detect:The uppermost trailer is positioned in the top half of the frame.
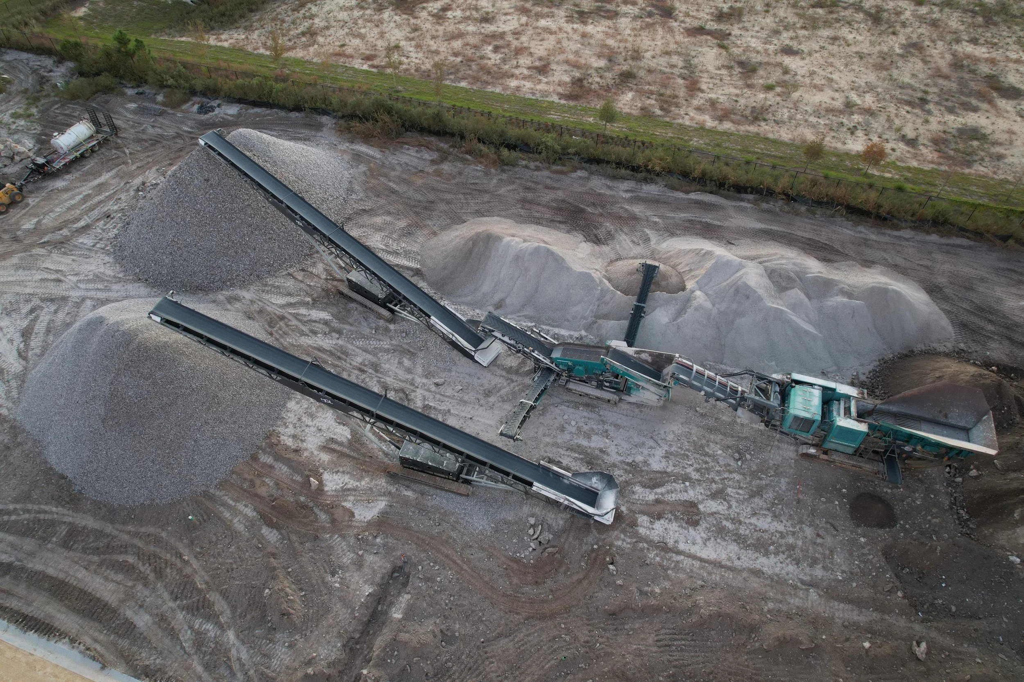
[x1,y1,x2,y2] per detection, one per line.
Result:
[12,113,123,187]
